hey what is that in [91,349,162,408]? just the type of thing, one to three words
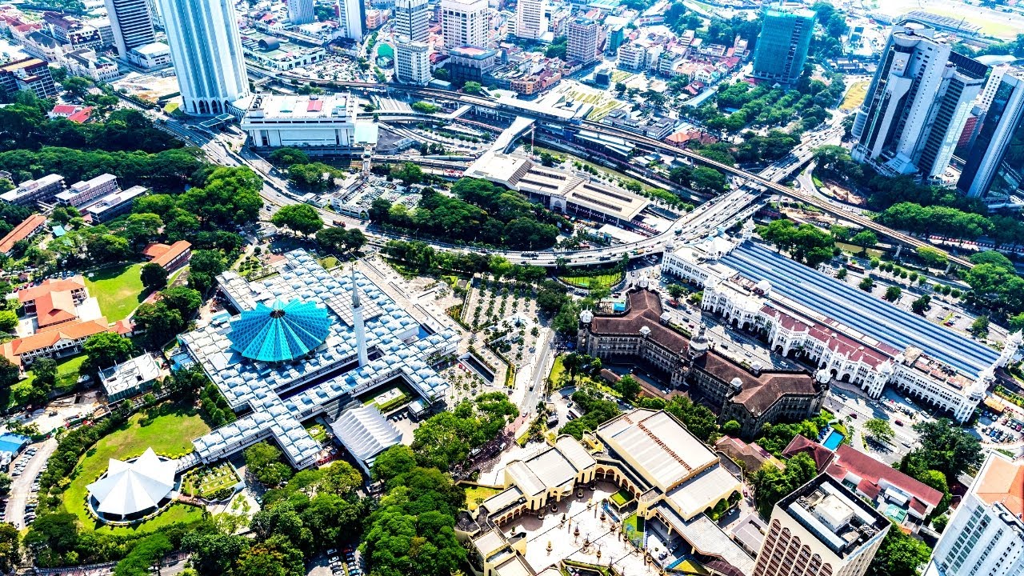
building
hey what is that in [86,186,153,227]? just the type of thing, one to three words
building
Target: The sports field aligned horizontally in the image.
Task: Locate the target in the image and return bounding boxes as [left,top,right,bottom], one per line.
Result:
[887,6,1024,34]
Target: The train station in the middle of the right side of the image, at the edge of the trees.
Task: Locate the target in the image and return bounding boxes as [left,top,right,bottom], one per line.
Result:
[660,212,1024,423]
